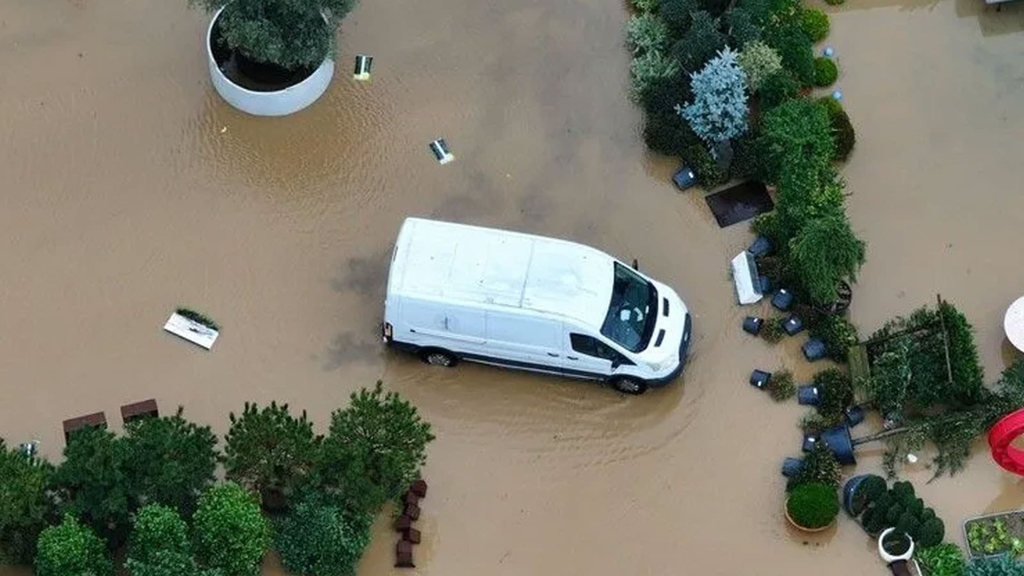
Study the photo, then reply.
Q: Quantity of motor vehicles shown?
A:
1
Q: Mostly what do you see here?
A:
water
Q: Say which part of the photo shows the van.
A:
center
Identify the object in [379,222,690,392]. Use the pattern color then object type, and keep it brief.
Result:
white van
